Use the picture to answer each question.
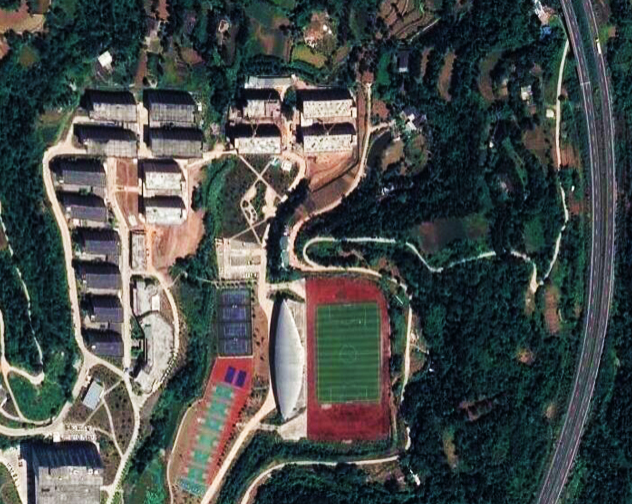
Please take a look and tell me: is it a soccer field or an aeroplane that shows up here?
soccer field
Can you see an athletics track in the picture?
Yes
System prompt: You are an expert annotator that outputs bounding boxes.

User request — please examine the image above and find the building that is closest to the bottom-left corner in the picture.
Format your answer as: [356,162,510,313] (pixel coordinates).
[33,449,104,504]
